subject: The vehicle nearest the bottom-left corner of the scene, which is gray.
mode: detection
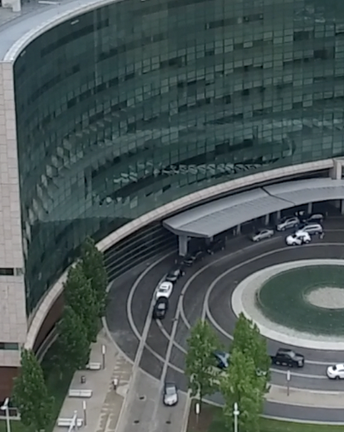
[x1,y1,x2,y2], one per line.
[160,381,180,407]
